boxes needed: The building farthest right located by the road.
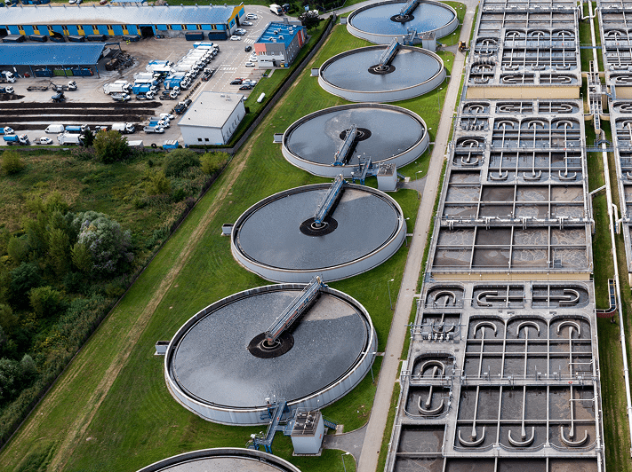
[421,30,452,51]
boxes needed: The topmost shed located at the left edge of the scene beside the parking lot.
[0,2,249,39]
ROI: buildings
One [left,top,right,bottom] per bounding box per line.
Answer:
[289,411,355,456]
[421,30,452,51]
[375,162,419,191]
[177,93,245,144]
[0,42,142,79]
[253,18,307,68]
[0,2,249,39]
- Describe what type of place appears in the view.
industrial area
